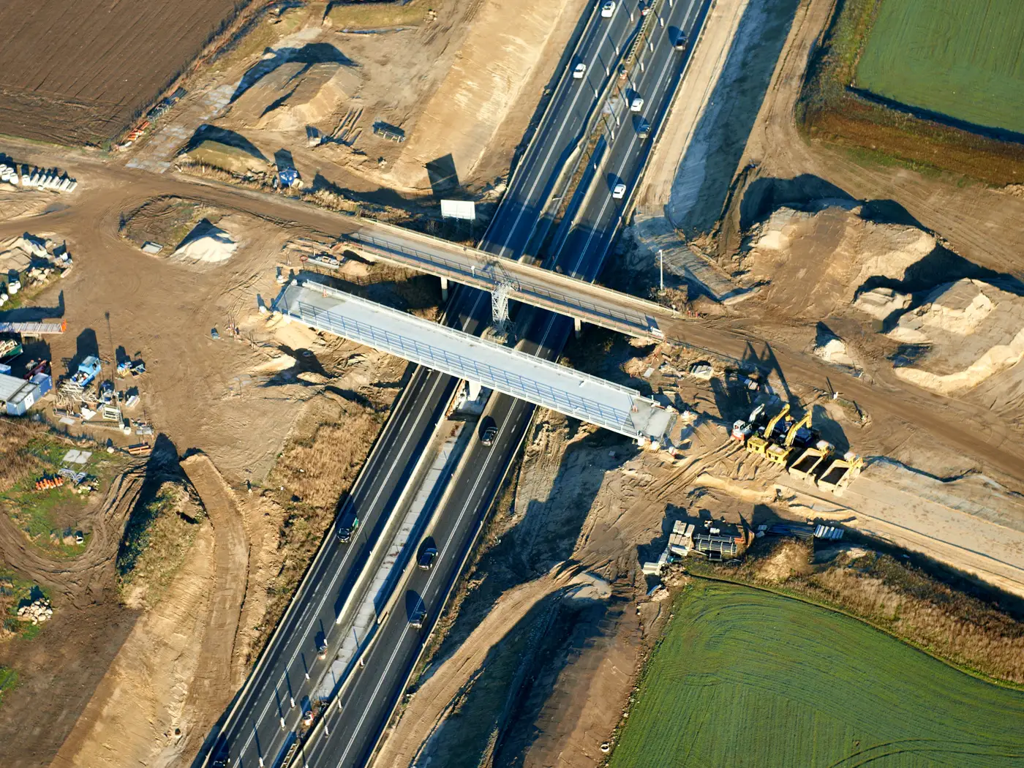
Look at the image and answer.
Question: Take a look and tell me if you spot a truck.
Yes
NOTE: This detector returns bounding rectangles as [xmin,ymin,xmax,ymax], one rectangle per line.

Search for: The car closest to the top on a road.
[602,2,615,18]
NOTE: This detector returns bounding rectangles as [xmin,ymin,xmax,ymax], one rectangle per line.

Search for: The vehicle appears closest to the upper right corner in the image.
[673,35,687,52]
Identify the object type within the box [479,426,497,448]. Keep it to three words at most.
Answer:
car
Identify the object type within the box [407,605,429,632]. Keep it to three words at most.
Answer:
vehicle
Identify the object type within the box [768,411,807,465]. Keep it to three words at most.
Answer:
work vehicle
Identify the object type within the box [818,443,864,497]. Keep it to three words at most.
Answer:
truck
